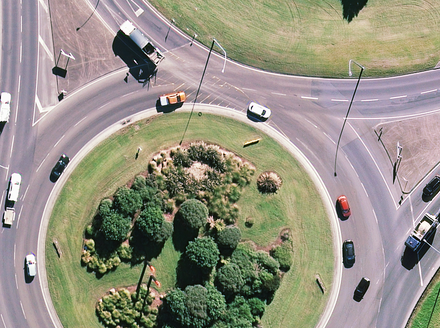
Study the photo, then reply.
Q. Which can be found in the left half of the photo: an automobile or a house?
automobile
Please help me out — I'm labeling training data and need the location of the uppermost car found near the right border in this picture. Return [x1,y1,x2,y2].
[424,176,440,198]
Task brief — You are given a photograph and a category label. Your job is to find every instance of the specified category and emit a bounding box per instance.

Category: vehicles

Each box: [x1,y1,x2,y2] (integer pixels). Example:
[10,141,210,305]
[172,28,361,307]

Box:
[52,156,69,180]
[249,102,272,118]
[356,277,371,299]
[160,92,186,106]
[0,92,12,122]
[340,195,352,217]
[8,174,20,202]
[344,241,355,265]
[120,19,164,65]
[406,214,438,252]
[26,254,36,276]
[424,176,440,198]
